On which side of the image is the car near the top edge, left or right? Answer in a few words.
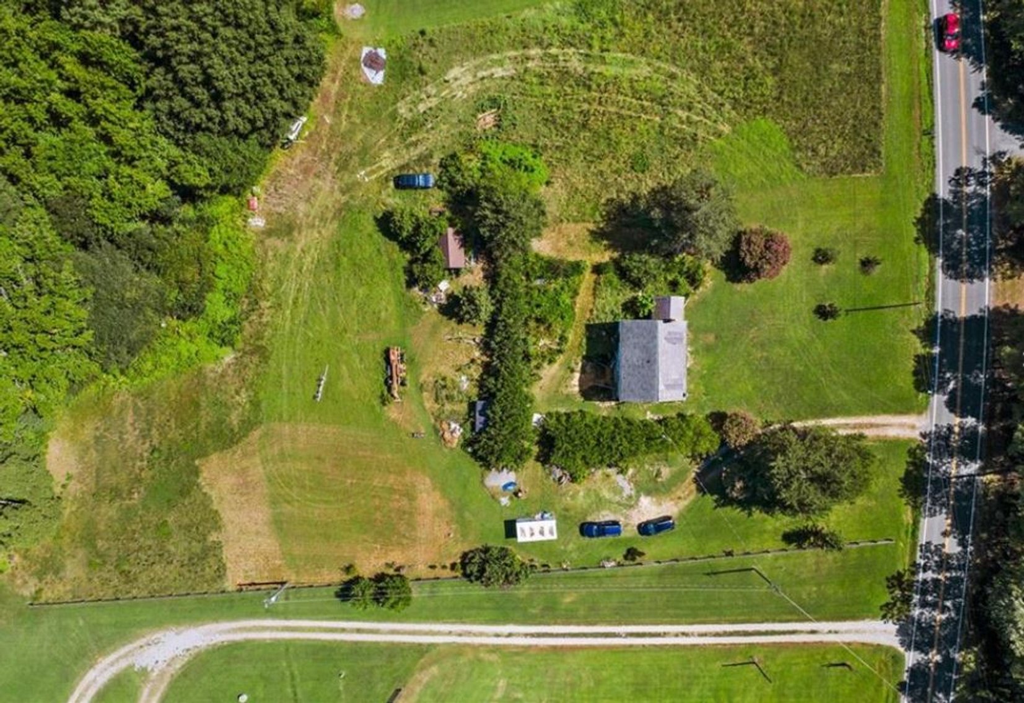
right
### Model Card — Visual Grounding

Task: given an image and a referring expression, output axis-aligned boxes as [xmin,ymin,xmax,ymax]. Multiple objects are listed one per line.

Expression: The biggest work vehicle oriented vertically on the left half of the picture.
[385,348,404,400]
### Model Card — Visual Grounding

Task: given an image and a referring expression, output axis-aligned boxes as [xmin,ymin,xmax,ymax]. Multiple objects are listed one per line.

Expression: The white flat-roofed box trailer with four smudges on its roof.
[515,519,564,544]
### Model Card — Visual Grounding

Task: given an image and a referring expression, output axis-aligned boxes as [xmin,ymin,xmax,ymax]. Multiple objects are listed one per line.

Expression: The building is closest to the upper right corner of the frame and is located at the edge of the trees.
[606,291,688,403]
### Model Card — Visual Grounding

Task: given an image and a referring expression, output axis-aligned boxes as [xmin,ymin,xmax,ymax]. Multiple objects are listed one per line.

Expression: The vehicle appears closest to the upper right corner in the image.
[943,10,966,51]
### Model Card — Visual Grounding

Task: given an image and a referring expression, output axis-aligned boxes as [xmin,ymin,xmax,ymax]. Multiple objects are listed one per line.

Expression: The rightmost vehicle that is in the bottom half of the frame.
[637,516,678,540]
